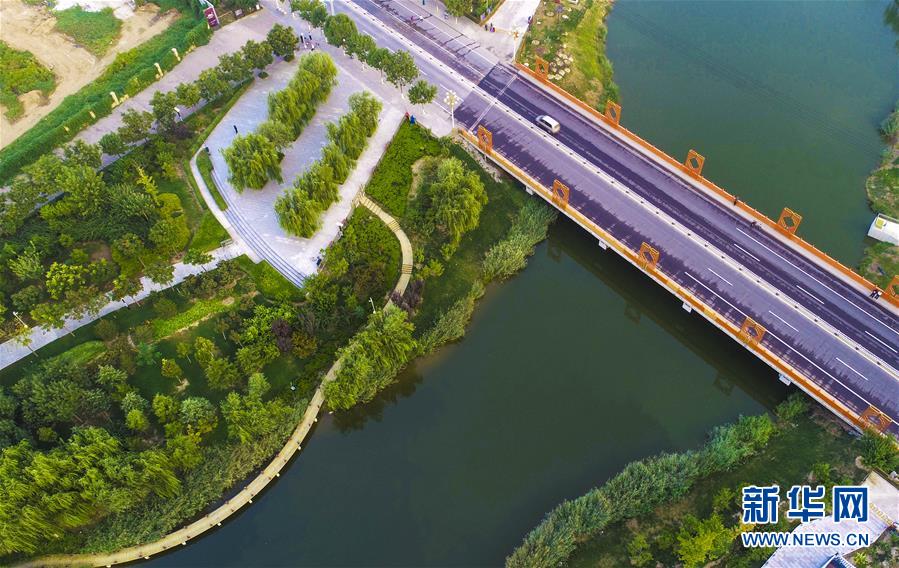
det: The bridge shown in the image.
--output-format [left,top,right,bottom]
[450,56,899,460]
